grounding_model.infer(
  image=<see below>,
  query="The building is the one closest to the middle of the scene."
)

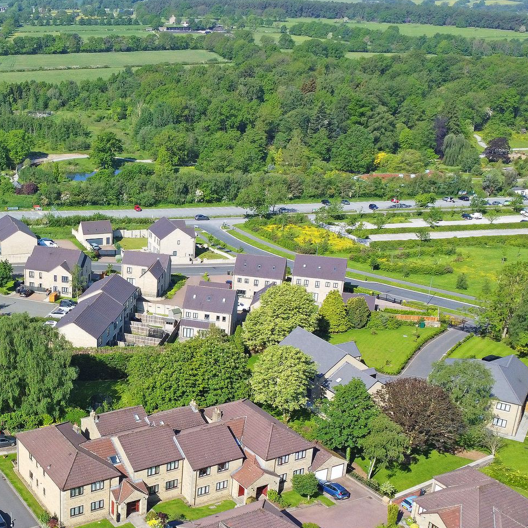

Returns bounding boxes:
[232,253,286,293]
